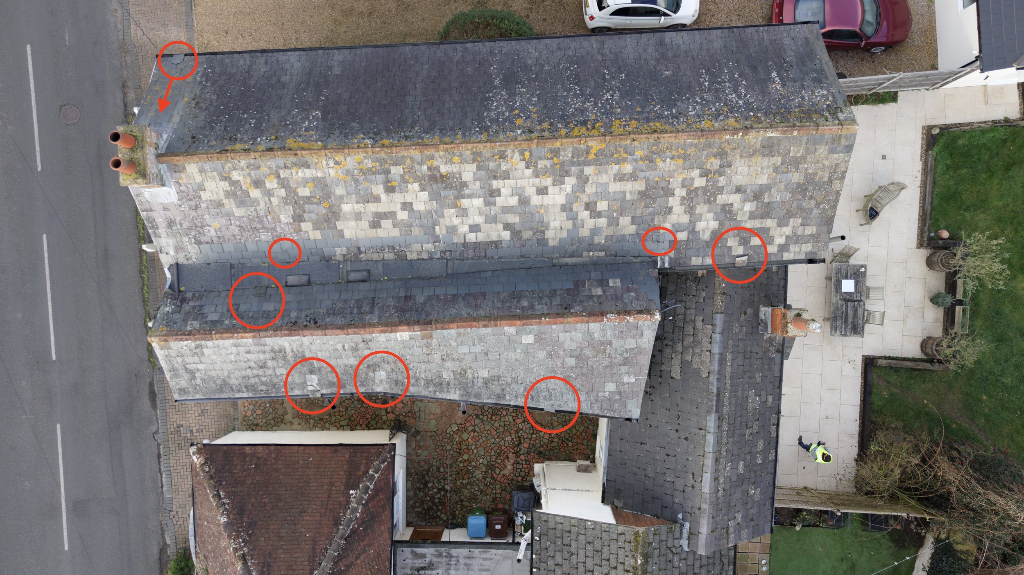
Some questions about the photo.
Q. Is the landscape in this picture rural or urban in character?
urban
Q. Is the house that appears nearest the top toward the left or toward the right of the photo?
right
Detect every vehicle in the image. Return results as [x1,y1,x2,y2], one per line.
[586,0,702,28]
[773,0,914,52]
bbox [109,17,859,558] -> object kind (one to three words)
house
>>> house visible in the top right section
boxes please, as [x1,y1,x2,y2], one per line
[940,0,1024,104]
